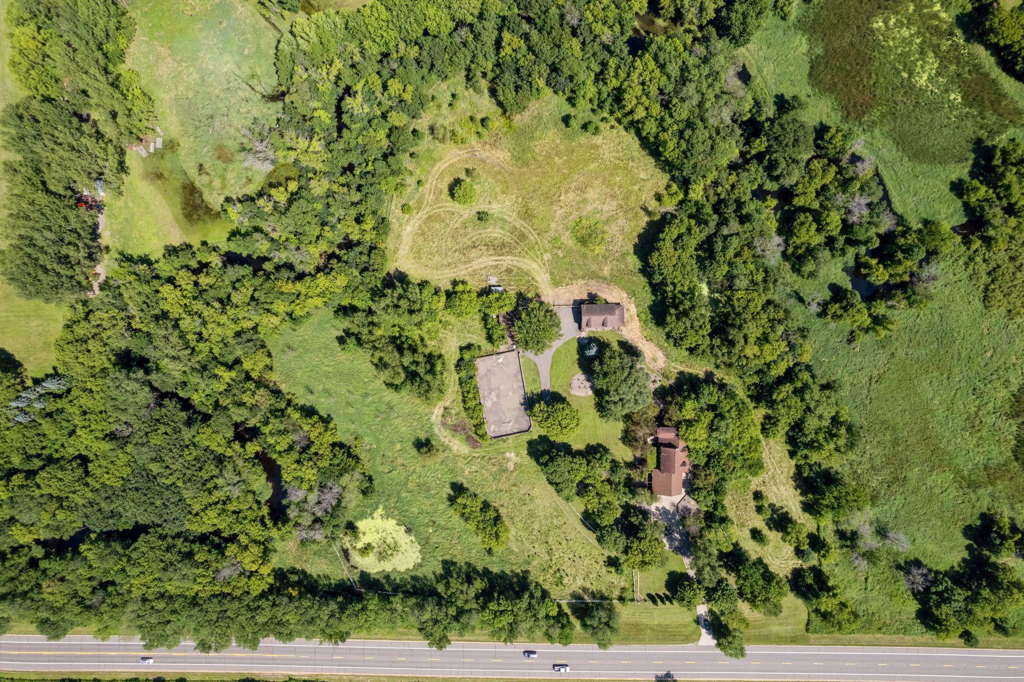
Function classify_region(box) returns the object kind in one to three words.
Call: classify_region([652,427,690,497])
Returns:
house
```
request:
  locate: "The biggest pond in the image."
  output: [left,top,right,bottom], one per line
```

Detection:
[350,503,423,574]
